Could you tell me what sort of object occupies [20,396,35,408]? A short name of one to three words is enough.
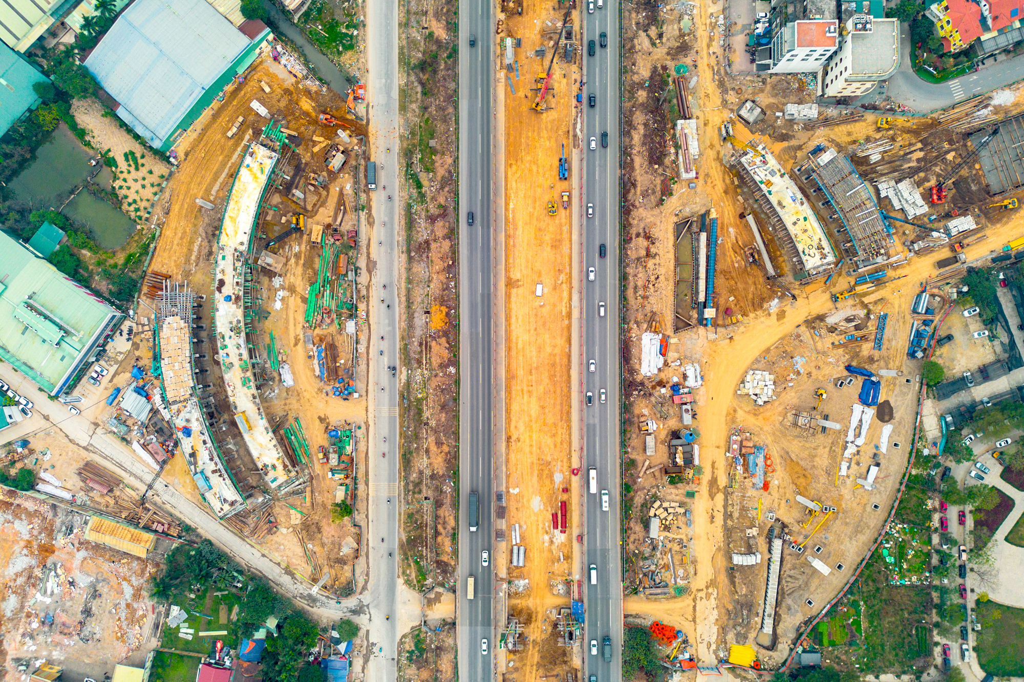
vehicle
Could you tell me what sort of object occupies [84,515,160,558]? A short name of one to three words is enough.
shed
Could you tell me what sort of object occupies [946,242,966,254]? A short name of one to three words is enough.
vehicle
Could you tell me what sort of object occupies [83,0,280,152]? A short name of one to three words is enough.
warehouse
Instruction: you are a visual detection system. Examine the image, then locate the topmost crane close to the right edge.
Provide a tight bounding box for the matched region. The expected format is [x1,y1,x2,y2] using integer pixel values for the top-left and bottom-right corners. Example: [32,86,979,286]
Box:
[924,126,1001,206]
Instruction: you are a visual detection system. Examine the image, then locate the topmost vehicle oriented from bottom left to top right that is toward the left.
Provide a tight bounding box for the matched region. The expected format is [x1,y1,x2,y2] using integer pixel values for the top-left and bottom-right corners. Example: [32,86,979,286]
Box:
[346,83,370,118]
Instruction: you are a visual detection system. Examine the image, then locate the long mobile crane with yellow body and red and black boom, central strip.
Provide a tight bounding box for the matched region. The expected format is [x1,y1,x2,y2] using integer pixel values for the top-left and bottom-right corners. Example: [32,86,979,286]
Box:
[530,1,572,114]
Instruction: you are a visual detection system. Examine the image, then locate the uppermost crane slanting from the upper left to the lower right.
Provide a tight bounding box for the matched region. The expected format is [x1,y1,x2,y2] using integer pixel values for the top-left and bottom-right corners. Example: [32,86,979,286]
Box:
[715,122,766,167]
